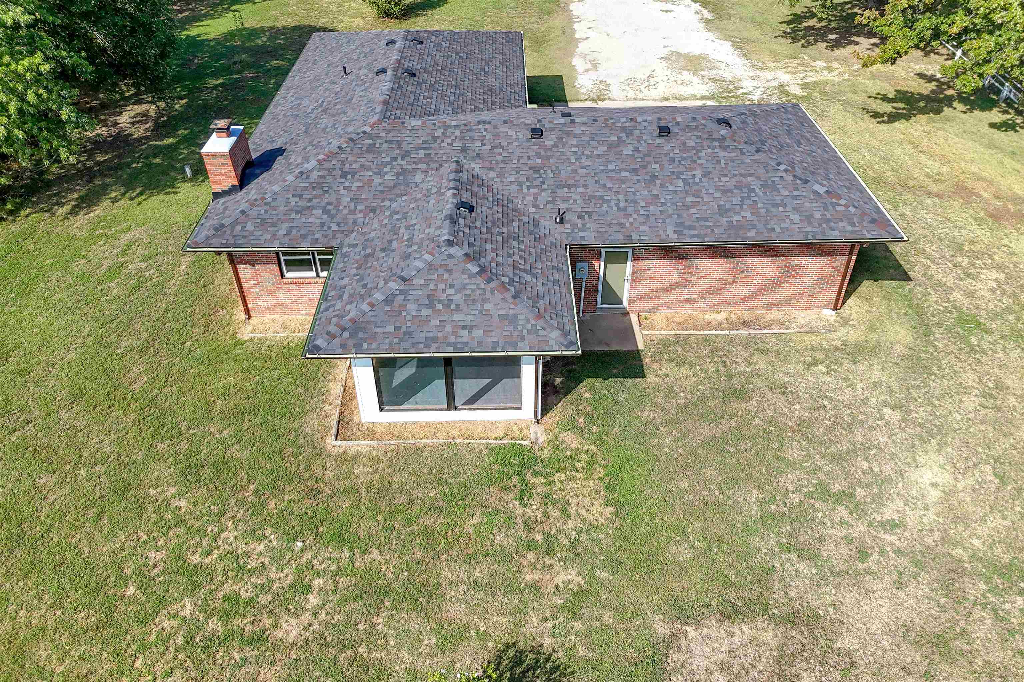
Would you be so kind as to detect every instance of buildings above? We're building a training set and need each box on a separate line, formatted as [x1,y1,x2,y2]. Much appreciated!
[182,30,910,425]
